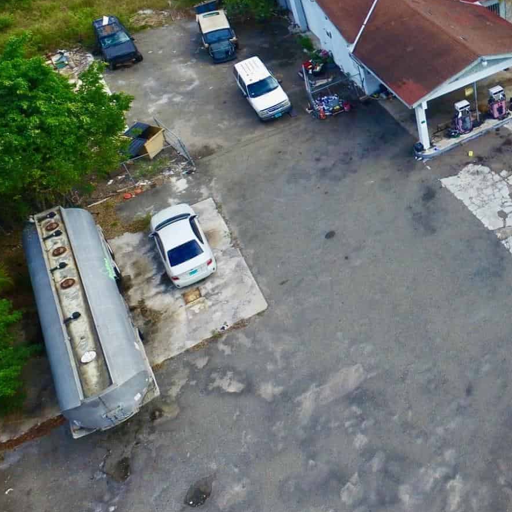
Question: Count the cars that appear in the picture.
4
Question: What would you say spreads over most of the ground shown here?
paved ground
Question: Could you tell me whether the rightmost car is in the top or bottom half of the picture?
top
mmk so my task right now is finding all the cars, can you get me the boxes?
[94,19,142,72]
[195,7,241,65]
[151,207,223,293]
[229,58,289,125]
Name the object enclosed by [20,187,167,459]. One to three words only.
trailer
